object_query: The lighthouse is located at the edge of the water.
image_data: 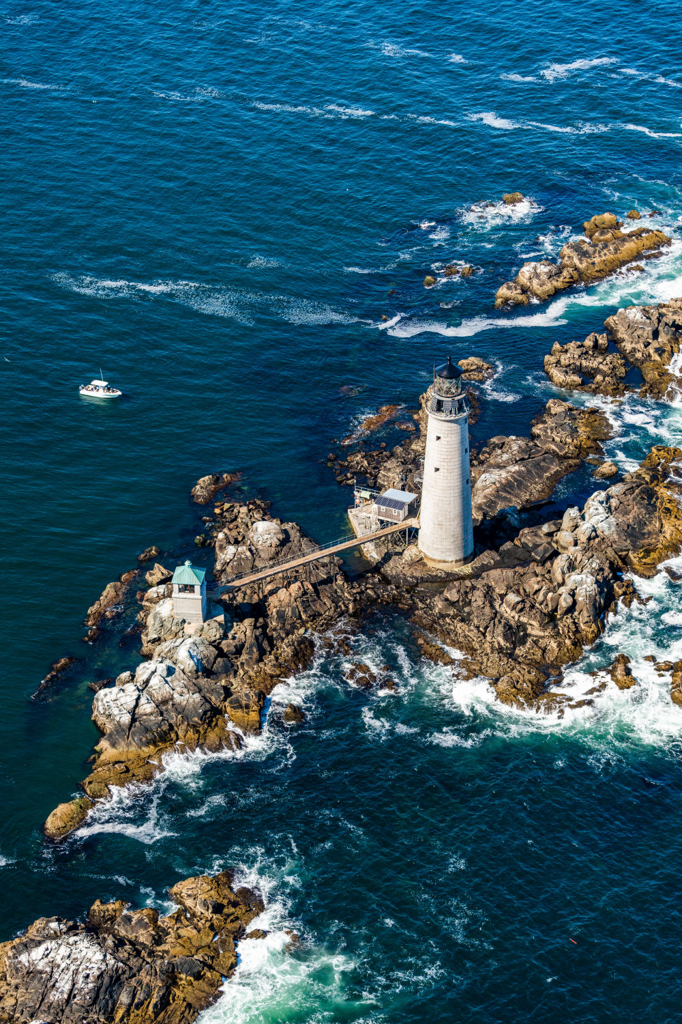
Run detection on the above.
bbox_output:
[411,356,476,571]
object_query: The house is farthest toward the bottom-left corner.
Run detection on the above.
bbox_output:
[172,560,209,623]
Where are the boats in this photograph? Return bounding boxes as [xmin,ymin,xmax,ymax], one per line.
[75,369,121,398]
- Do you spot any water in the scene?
Yes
